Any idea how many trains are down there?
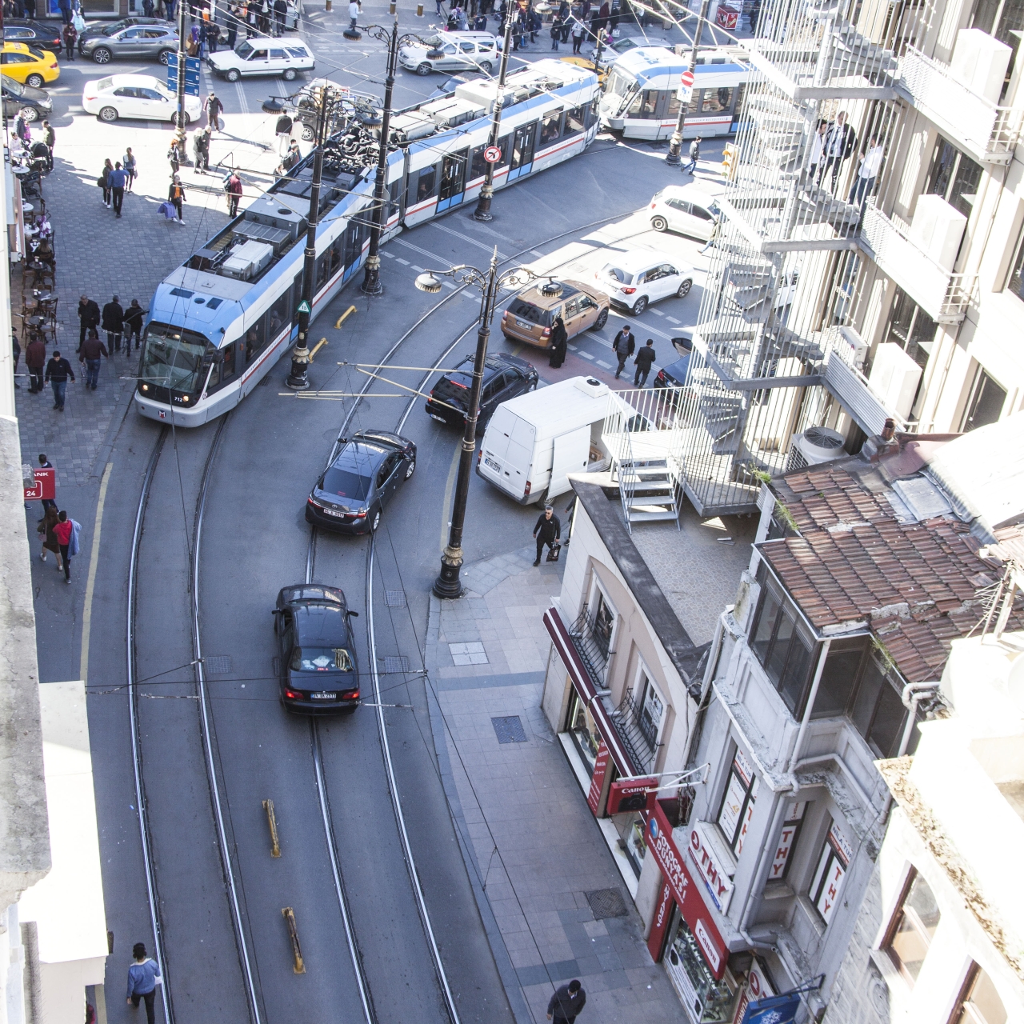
2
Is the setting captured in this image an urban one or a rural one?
urban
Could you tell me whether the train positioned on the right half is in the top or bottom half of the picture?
top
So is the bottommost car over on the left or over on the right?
left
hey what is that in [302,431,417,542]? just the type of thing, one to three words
car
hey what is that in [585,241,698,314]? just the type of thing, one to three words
car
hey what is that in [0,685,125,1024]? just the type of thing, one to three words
building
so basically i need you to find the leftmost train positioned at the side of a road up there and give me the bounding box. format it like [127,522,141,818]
[112,64,612,431]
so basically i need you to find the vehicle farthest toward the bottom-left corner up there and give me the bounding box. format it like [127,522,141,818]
[268,575,364,717]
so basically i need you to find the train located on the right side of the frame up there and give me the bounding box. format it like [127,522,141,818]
[599,46,820,136]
